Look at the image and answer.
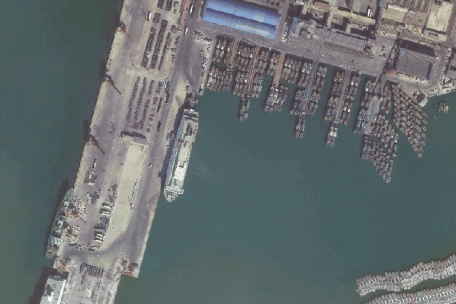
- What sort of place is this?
port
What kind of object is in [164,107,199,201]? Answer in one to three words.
ship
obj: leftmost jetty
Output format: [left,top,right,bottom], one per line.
[54,0,216,304]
